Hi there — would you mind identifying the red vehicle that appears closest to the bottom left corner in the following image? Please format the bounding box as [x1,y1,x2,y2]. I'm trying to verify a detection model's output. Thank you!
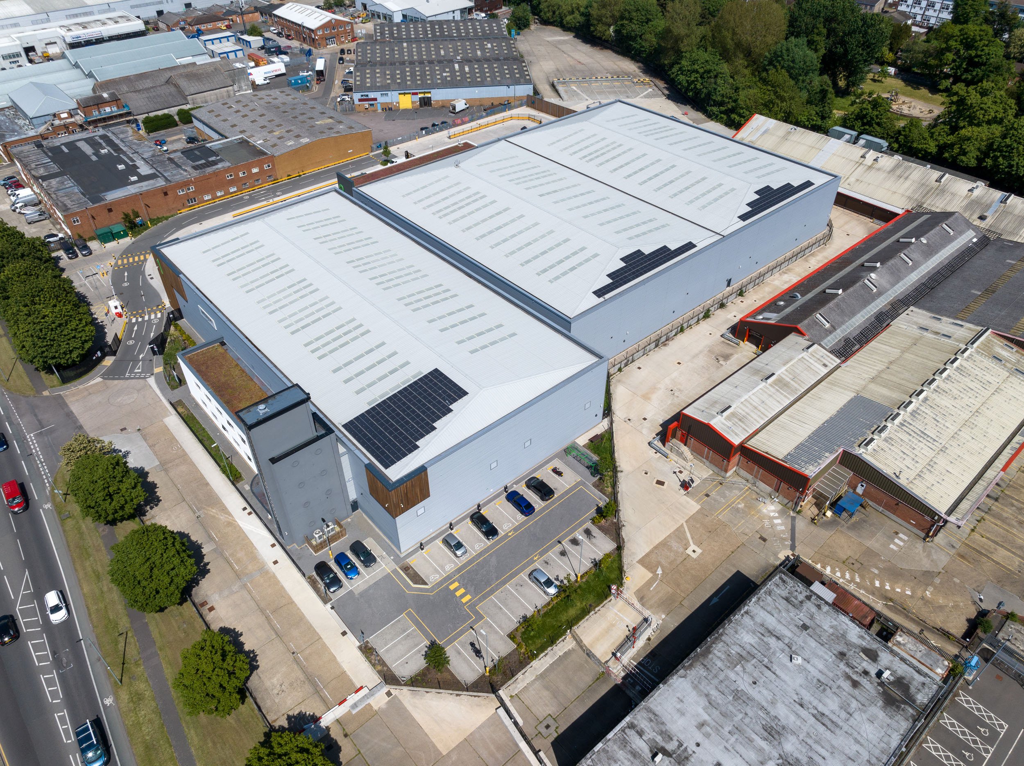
[1,478,28,514]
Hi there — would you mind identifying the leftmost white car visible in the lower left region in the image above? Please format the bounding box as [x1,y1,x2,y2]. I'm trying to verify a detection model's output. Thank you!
[44,589,70,625]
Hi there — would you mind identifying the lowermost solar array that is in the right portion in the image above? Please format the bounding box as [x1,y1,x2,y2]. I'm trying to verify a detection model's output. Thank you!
[591,239,697,298]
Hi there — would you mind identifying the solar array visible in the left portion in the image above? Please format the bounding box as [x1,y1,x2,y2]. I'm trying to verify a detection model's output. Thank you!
[342,367,469,469]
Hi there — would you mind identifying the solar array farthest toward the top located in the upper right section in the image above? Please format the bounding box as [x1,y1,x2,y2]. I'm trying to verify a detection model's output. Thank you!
[736,178,815,221]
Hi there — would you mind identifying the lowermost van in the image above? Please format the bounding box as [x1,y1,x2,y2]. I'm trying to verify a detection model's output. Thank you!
[73,717,108,766]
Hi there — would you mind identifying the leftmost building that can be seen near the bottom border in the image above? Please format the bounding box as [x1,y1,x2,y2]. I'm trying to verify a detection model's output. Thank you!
[577,567,945,766]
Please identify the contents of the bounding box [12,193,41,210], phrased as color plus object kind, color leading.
gray vehicle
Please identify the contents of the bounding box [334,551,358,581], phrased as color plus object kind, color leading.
blue car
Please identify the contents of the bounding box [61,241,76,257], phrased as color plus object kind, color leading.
black car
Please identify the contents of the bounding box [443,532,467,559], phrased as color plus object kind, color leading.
gray car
